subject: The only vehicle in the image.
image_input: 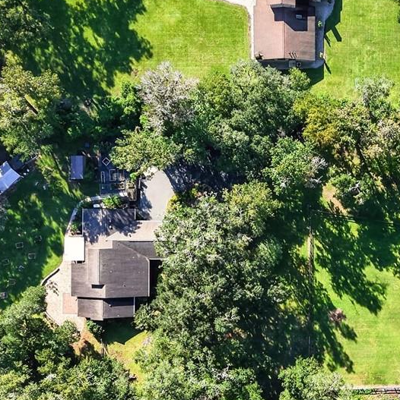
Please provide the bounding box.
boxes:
[126,179,139,201]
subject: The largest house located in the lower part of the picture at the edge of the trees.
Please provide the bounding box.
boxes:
[64,209,173,320]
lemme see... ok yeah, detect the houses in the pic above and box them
[64,209,173,320]
[254,0,322,61]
